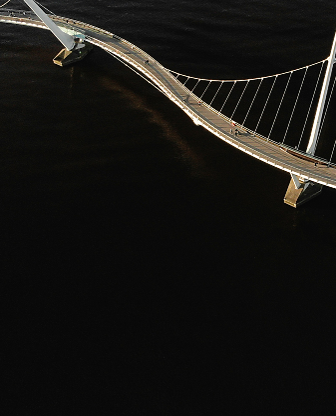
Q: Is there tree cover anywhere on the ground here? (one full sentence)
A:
No, the scene doesn't show any tree cover.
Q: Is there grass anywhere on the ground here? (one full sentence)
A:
No, grass can't be seen anywhere here.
